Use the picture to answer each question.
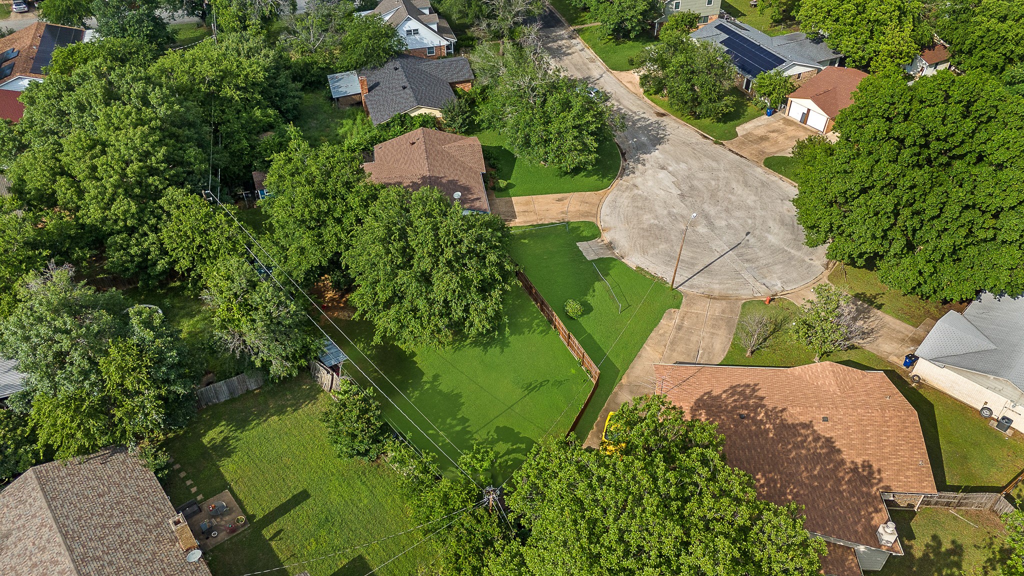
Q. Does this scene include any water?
No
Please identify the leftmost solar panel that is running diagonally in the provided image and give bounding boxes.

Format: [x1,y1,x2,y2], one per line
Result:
[28,28,78,74]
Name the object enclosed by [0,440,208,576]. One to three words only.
house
